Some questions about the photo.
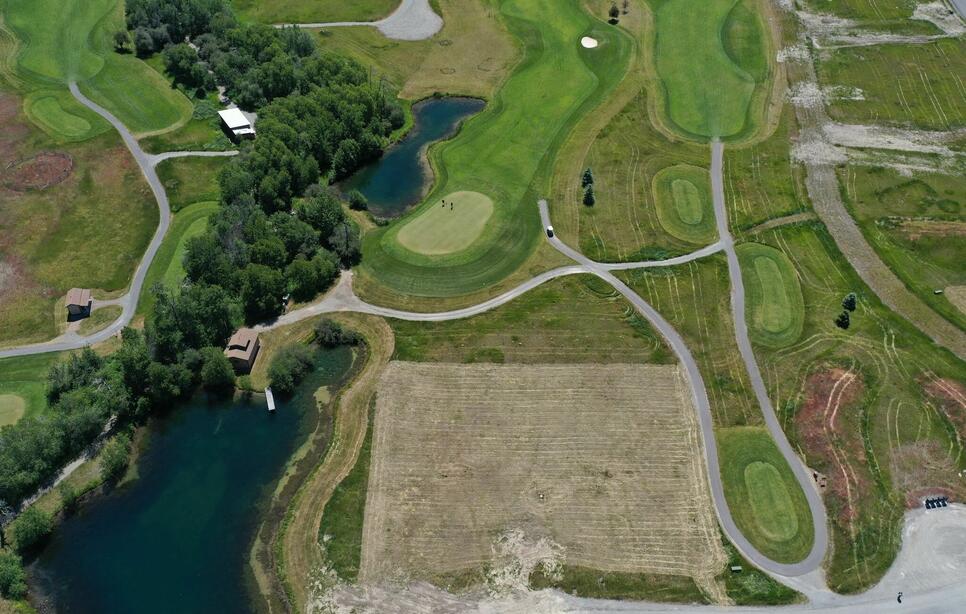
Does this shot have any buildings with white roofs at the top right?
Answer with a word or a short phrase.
No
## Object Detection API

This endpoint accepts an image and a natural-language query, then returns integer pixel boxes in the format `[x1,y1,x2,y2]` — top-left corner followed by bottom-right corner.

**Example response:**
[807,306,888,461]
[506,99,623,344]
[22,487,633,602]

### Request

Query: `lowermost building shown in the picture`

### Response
[223,324,266,370]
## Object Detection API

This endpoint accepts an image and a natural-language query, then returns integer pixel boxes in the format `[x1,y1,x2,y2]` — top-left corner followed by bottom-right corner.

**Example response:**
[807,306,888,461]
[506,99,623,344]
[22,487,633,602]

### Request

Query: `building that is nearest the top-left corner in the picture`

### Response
[218,107,254,146]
